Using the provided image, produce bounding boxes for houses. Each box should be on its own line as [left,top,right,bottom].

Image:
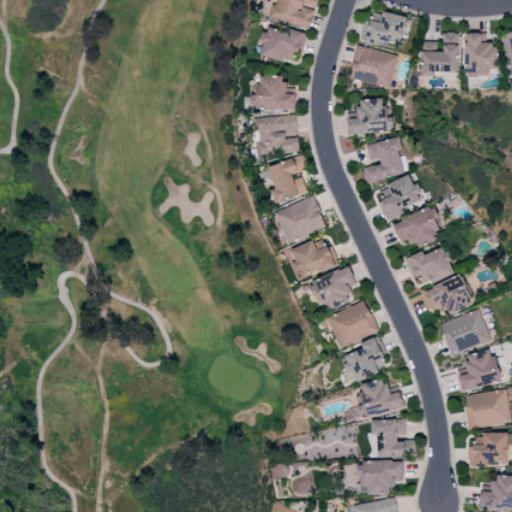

[373,420,417,458]
[348,98,396,134]
[306,266,358,310]
[292,239,340,280]
[420,31,461,74]
[481,476,512,512]
[360,460,405,496]
[328,302,376,348]
[470,434,510,468]
[426,276,476,315]
[364,136,408,182]
[362,10,408,46]
[393,206,442,245]
[468,390,512,429]
[380,176,422,218]
[442,308,494,356]
[408,248,458,286]
[275,195,328,242]
[351,44,398,88]
[269,154,310,205]
[262,26,306,61]
[255,114,300,154]
[250,74,296,112]
[362,380,406,418]
[344,338,388,381]
[352,499,400,512]
[266,0,318,28]
[466,32,499,76]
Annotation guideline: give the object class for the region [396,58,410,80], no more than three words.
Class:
swimming pool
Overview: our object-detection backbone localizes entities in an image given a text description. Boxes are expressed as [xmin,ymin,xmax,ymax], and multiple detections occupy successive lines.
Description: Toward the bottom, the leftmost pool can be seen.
[323,400,352,418]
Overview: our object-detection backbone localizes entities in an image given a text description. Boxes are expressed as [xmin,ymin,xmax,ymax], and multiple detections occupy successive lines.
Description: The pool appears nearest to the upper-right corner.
[481,76,501,88]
